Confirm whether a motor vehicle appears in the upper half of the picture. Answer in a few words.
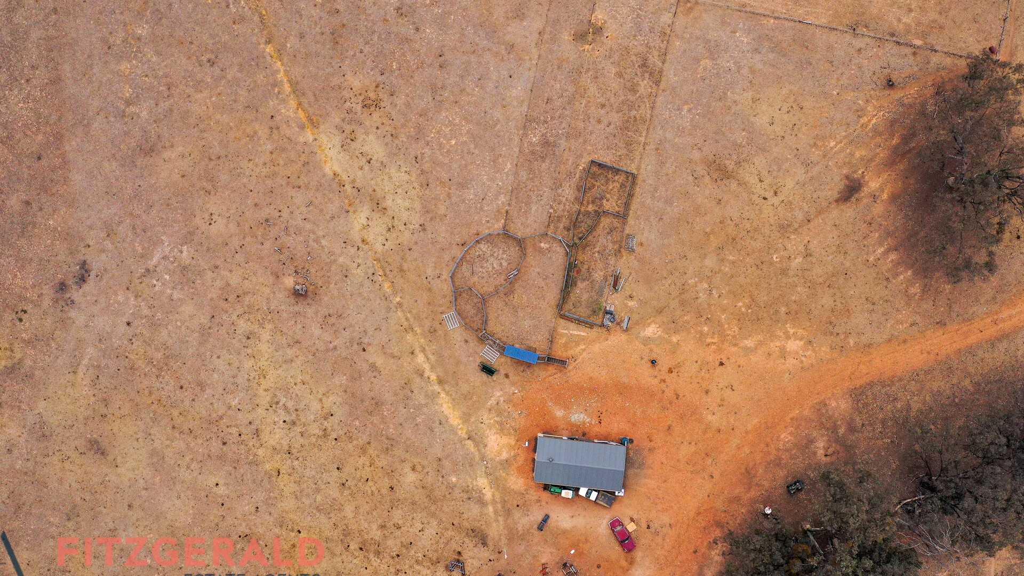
No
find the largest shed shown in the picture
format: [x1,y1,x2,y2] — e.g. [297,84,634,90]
[533,435,627,493]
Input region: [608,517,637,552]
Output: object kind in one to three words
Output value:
car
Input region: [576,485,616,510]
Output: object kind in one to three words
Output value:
truck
